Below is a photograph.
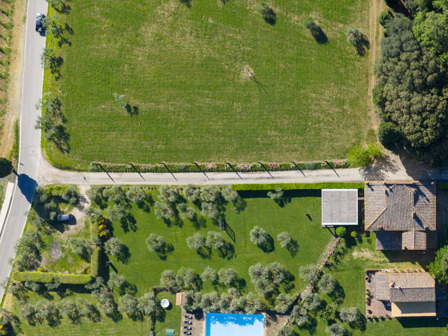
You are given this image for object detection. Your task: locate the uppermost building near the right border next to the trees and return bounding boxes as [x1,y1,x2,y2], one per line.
[362,179,438,250]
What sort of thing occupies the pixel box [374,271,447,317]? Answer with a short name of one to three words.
house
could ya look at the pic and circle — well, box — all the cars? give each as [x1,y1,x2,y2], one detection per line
[57,214,72,222]
[36,14,44,31]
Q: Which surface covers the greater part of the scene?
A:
grass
